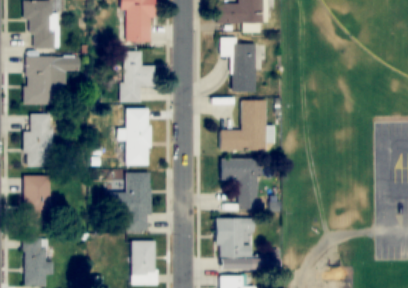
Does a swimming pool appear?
No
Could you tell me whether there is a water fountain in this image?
No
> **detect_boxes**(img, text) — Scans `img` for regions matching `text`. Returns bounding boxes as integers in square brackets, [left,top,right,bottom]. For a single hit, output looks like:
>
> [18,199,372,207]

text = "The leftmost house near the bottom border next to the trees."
[21,238,53,286]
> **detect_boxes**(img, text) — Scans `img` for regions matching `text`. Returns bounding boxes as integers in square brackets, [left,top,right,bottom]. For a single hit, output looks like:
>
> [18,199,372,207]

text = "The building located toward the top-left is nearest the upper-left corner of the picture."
[21,0,60,49]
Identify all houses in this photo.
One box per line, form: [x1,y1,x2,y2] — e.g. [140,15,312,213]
[102,168,154,234]
[115,107,152,166]
[216,35,264,92]
[21,0,60,49]
[128,240,158,286]
[22,49,80,105]
[216,0,274,32]
[218,100,275,151]
[218,272,256,288]
[118,0,156,44]
[214,218,258,270]
[21,238,53,286]
[219,158,264,208]
[22,113,52,167]
[118,50,156,102]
